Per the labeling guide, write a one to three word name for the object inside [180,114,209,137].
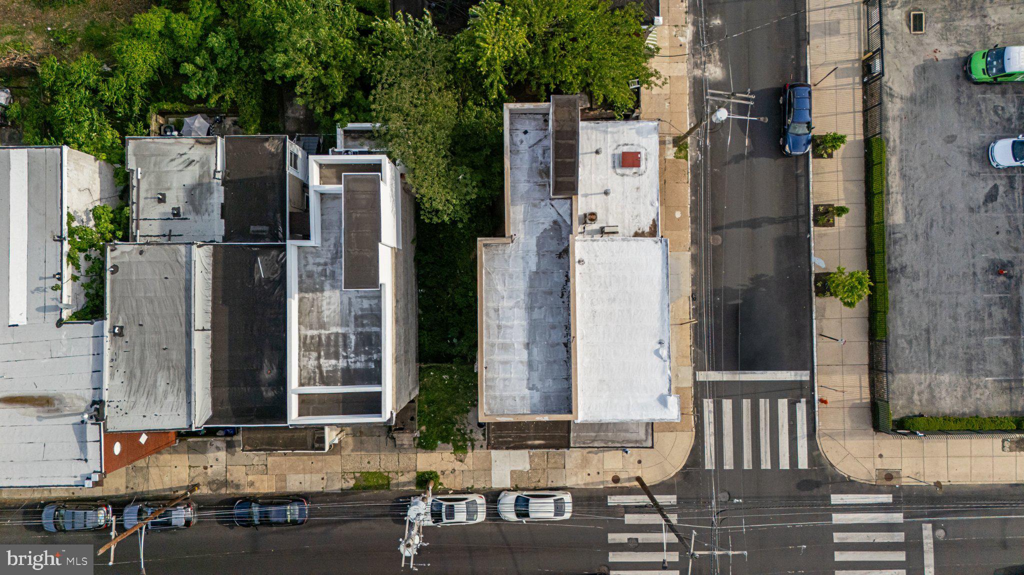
umbrella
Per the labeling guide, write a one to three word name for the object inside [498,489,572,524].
car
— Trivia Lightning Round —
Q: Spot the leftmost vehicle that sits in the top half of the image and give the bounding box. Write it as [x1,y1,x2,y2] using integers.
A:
[778,82,815,157]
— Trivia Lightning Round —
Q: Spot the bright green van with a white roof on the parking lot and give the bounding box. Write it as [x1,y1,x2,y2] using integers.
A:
[963,44,1024,84]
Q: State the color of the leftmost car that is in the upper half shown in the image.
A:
blue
